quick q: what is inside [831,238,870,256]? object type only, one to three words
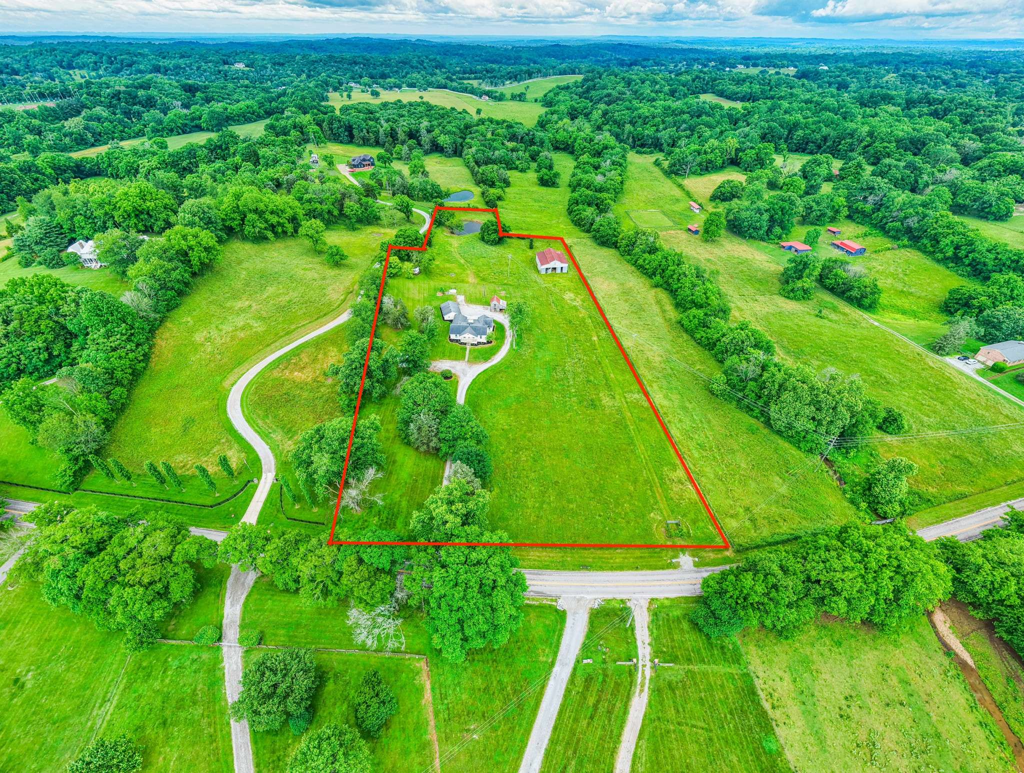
barn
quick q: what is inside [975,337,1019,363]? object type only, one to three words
house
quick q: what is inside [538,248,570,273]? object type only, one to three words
barn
